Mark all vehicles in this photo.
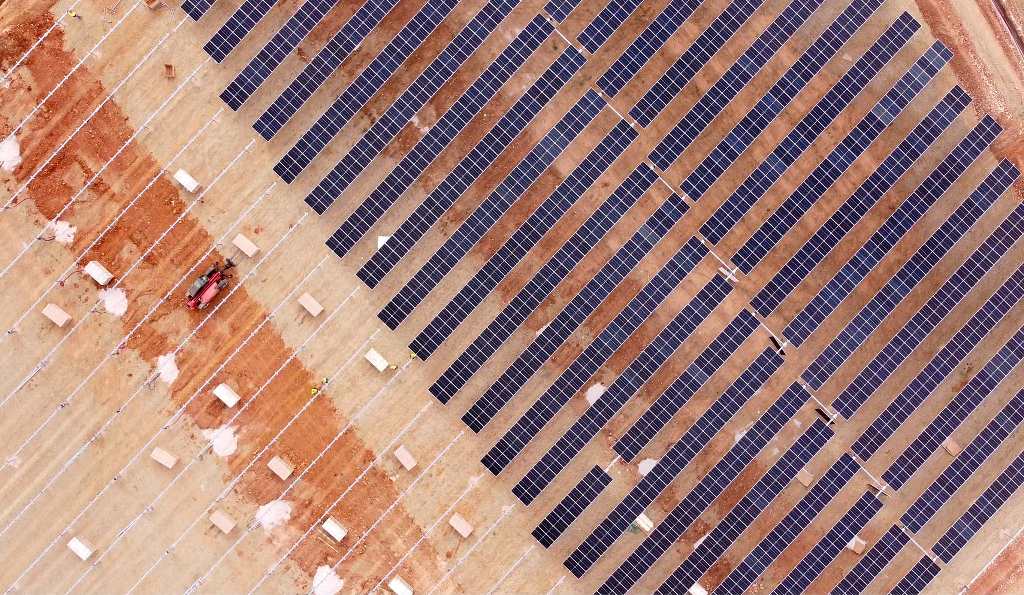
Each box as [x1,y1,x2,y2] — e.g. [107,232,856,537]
[183,251,244,310]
